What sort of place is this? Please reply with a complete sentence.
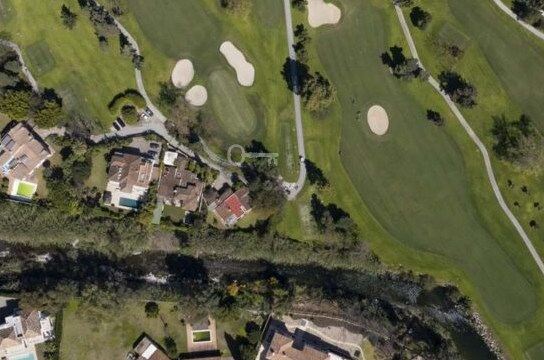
The area seen from above is a golf course.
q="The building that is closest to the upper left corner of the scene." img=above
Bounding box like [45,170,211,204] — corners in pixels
[0,122,52,199]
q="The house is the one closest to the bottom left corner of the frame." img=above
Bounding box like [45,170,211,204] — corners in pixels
[0,308,57,360]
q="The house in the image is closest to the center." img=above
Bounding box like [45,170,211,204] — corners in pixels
[206,184,251,227]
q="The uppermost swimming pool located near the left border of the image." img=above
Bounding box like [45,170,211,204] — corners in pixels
[15,181,36,198]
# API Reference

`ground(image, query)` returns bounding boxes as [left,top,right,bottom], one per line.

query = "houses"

[103,152,156,210]
[0,122,52,199]
[263,316,346,360]
[206,184,251,227]
[0,308,57,360]
[152,151,202,213]
[126,334,236,360]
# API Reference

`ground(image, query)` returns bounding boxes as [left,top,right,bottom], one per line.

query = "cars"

[147,150,157,155]
[112,121,120,131]
[116,117,124,127]
[139,111,148,120]
[144,107,153,116]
